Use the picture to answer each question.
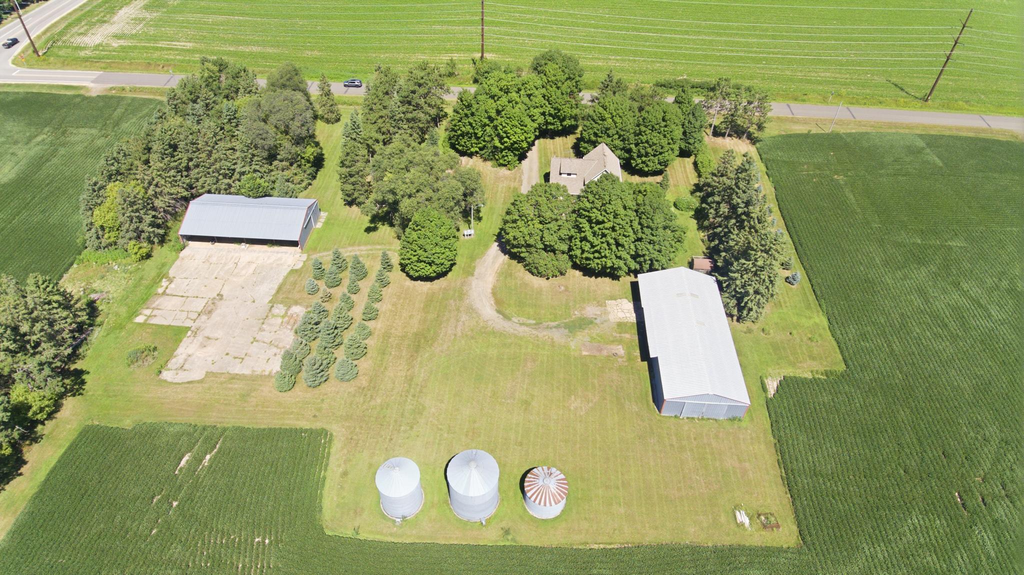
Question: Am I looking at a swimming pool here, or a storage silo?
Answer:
storage silo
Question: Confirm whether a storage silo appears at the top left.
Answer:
No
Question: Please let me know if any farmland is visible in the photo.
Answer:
Yes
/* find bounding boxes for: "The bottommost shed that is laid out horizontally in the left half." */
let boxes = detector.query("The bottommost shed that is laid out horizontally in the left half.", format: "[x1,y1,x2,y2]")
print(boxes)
[177,193,319,251]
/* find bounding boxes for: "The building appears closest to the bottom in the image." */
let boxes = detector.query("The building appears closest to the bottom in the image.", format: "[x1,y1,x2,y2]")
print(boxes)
[636,267,749,419]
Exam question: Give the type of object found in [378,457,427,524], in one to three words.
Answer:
silo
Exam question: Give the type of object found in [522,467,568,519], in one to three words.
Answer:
silo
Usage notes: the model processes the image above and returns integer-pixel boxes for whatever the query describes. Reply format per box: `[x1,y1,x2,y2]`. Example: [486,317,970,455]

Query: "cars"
[343,80,362,89]
[0,38,18,48]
